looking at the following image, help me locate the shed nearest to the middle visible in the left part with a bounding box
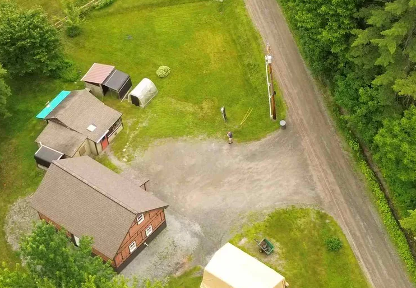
[129,77,160,107]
